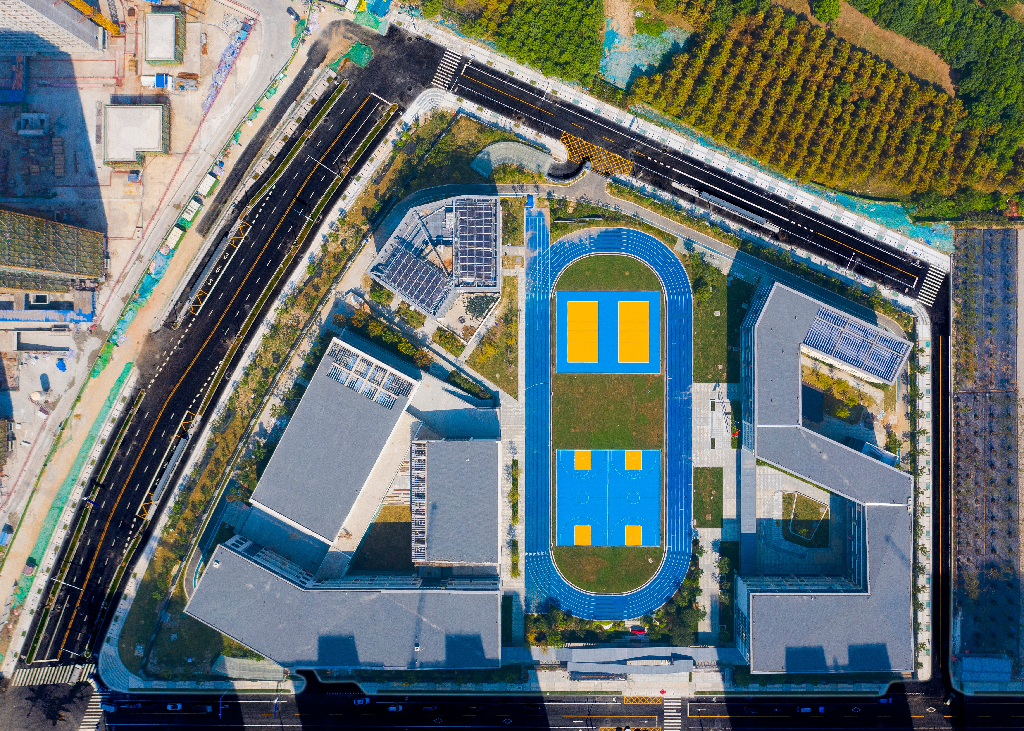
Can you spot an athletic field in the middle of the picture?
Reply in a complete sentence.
Yes, you'll find an athletic field in the middle of the picture.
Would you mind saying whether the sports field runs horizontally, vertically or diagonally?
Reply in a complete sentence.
The sports field runs vertically in the image.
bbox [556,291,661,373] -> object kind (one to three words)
sports court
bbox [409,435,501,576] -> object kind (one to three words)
building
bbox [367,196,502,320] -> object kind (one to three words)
building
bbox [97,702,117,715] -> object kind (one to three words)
vehicle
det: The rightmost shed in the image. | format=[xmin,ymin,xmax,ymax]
[956,652,1013,682]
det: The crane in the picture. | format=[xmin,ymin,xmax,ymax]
[61,0,123,40]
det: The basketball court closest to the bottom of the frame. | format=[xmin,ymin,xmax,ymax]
[556,449,661,546]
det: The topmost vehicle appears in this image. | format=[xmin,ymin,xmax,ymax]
[286,4,300,22]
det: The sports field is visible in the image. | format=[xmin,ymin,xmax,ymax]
[552,255,665,593]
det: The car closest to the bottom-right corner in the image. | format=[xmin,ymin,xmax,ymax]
[943,692,957,707]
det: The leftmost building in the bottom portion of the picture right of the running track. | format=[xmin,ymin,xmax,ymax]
[734,282,915,674]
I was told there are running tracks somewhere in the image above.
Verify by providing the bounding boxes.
[524,207,693,621]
